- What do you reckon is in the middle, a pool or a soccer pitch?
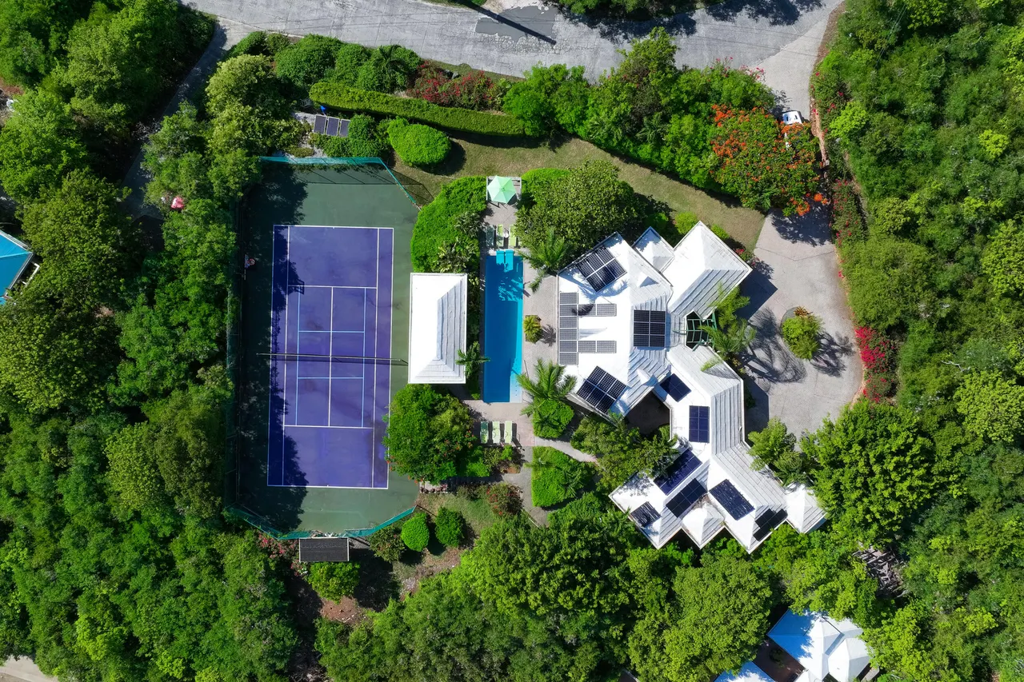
pool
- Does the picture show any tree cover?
Yes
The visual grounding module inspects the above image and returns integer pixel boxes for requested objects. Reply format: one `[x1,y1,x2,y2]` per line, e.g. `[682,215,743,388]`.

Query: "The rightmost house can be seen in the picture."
[761,602,871,682]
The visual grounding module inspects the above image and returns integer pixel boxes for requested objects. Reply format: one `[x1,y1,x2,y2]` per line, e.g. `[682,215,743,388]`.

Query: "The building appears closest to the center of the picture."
[407,272,469,385]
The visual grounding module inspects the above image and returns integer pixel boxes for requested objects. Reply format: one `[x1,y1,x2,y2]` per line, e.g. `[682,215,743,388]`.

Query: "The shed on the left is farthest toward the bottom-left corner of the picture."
[298,532,354,563]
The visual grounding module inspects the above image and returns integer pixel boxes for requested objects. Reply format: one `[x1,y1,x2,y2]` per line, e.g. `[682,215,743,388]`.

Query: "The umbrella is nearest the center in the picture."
[489,171,517,201]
